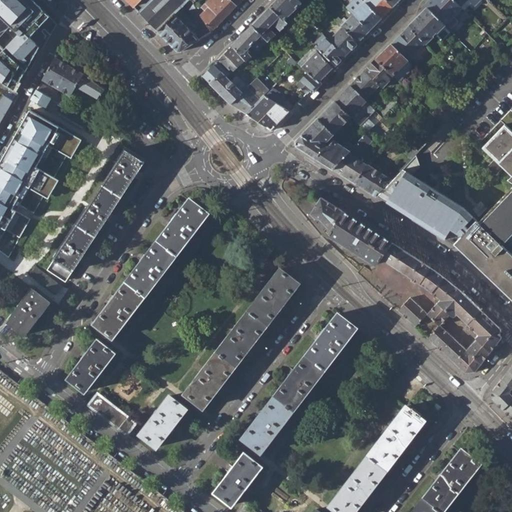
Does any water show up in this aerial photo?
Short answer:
No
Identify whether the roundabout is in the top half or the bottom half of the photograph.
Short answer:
top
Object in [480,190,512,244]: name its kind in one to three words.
building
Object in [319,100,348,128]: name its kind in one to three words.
house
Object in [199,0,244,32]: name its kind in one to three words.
house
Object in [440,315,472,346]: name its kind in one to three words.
building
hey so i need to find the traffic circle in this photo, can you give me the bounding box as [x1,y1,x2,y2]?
[198,130,254,185]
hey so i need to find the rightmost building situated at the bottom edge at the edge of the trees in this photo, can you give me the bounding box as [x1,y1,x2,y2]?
[410,448,481,512]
